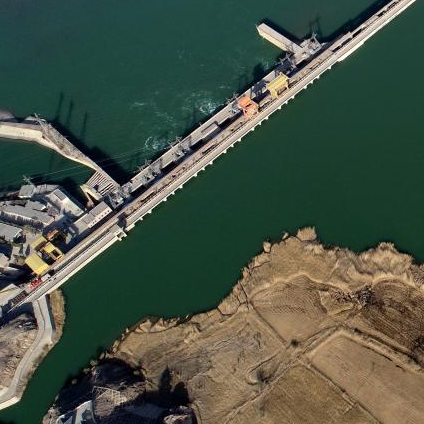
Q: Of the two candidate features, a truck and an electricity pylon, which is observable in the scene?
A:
electricity pylon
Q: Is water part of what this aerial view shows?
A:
Yes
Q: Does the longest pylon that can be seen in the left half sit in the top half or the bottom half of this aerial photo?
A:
top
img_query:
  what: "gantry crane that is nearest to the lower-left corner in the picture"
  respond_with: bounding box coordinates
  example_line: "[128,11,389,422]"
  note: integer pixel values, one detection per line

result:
[24,252,58,281]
